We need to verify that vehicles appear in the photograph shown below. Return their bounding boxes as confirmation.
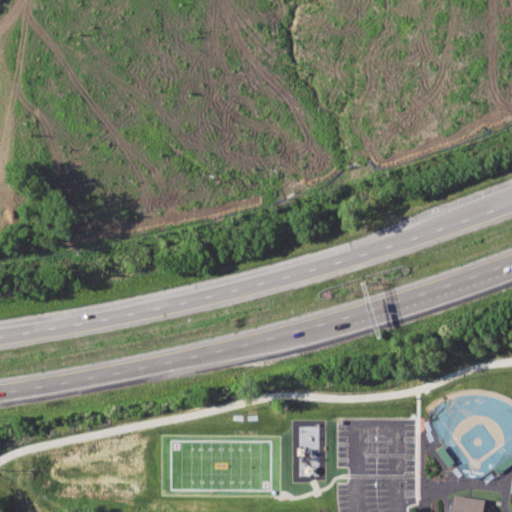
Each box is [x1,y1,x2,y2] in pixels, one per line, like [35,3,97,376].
[502,266,512,274]
[81,314,94,320]
[336,324,348,330]
[342,421,352,426]
[294,332,304,338]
